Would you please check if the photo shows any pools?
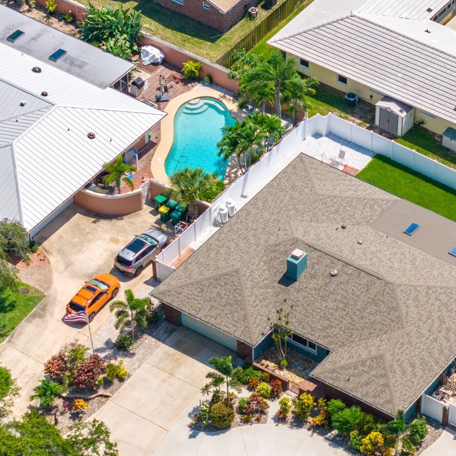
Yes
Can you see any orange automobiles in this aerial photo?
Yes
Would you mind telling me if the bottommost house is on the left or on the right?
right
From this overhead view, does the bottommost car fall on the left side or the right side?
left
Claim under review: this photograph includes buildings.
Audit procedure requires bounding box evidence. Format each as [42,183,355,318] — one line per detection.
[153,0,262,34]
[150,152,456,444]
[268,0,456,142]
[0,2,168,248]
